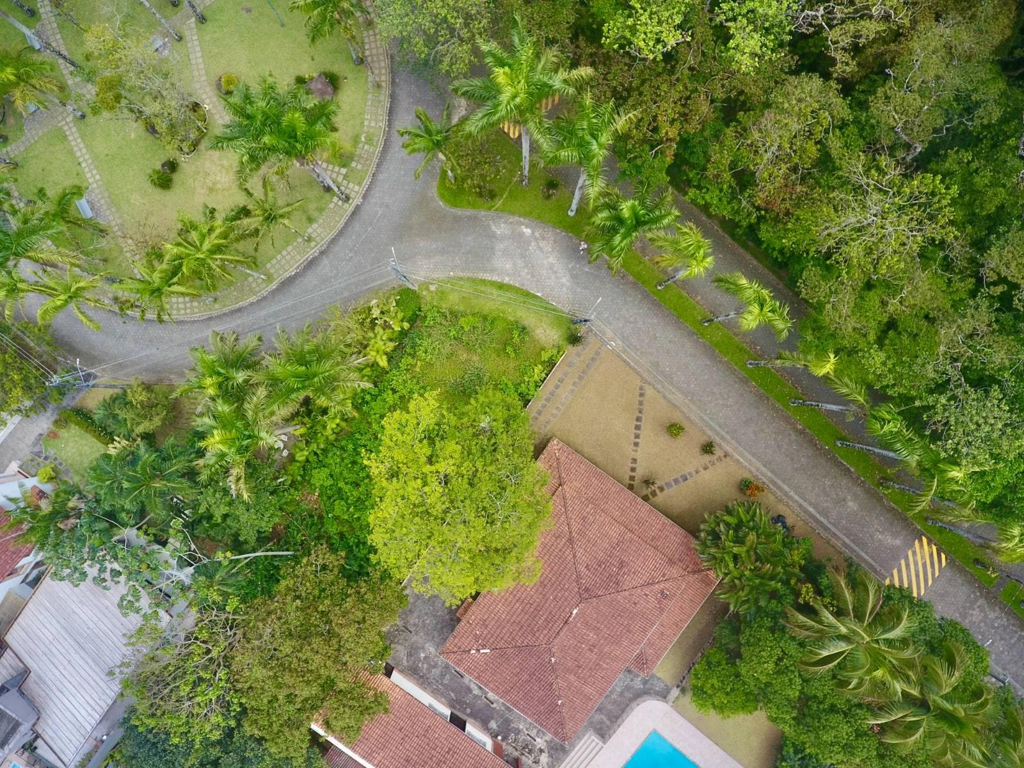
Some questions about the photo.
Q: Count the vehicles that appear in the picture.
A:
0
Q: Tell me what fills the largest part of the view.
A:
trees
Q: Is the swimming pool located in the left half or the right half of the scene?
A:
right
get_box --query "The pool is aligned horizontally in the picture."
[588,700,744,768]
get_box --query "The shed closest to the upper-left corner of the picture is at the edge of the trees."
[297,65,330,101]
